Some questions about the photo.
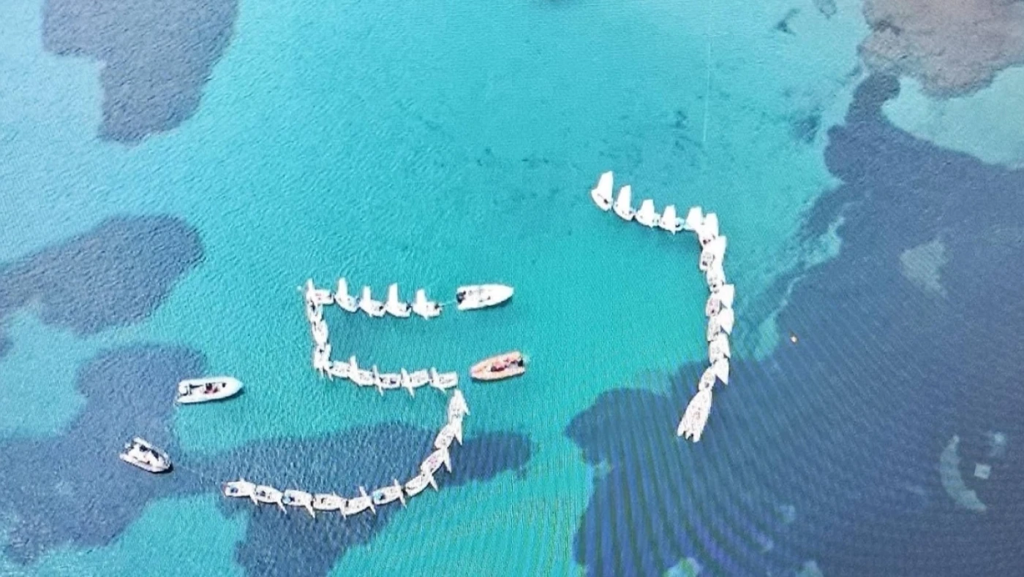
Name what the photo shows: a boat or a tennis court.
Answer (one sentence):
This aerial view contains a boat.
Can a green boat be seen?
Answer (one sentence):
No, I find no green boat anywhere in the image.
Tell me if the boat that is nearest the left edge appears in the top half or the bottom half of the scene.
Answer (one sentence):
The bottom half of the photo is where the boat that is nearest the left edge is.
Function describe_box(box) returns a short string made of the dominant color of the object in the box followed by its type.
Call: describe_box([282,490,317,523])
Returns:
white boat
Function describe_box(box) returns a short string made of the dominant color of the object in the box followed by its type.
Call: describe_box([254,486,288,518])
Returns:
white boat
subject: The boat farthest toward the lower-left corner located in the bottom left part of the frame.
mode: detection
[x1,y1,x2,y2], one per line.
[120,438,169,470]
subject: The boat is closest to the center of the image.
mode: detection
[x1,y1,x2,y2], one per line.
[456,284,514,309]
